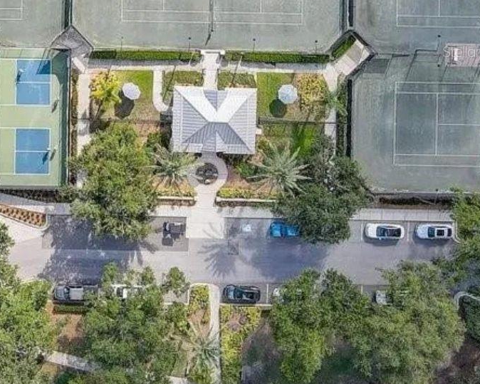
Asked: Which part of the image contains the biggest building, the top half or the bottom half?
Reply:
top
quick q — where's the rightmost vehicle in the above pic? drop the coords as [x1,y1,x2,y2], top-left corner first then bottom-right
[418,224,455,242]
